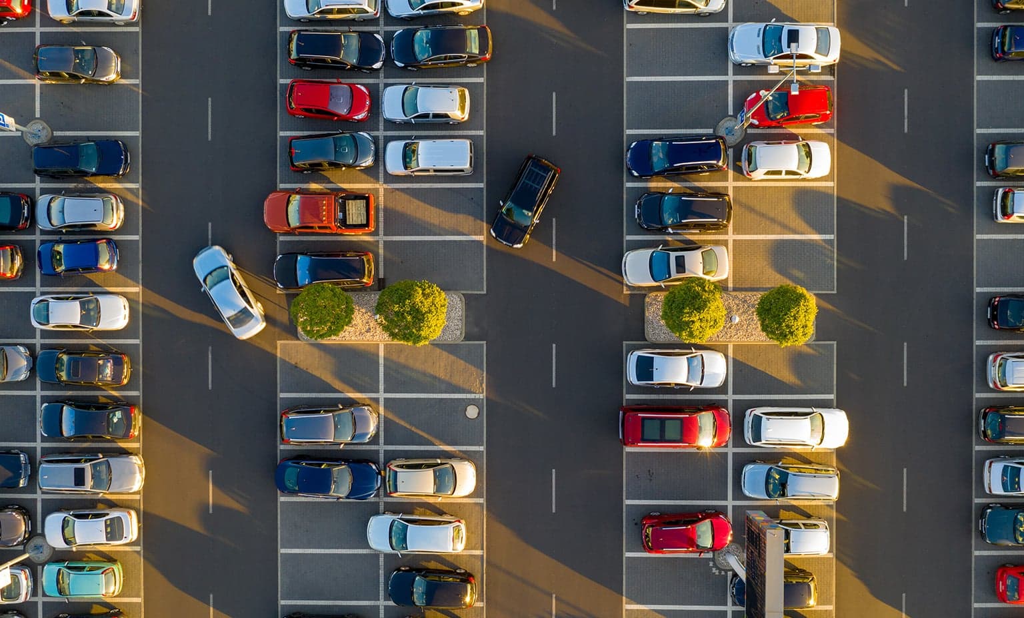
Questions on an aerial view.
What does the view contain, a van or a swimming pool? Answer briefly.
van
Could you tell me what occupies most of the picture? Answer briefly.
paved ground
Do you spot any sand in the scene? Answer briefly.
No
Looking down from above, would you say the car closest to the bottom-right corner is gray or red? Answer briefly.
red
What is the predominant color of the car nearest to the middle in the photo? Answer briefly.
black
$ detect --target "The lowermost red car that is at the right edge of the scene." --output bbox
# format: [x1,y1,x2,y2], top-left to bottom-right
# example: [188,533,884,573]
[994,561,1024,604]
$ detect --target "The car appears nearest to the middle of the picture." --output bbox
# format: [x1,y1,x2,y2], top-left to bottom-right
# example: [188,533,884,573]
[490,153,562,247]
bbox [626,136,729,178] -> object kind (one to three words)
car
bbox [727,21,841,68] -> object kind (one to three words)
car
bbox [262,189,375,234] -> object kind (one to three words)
truck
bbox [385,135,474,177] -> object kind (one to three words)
van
